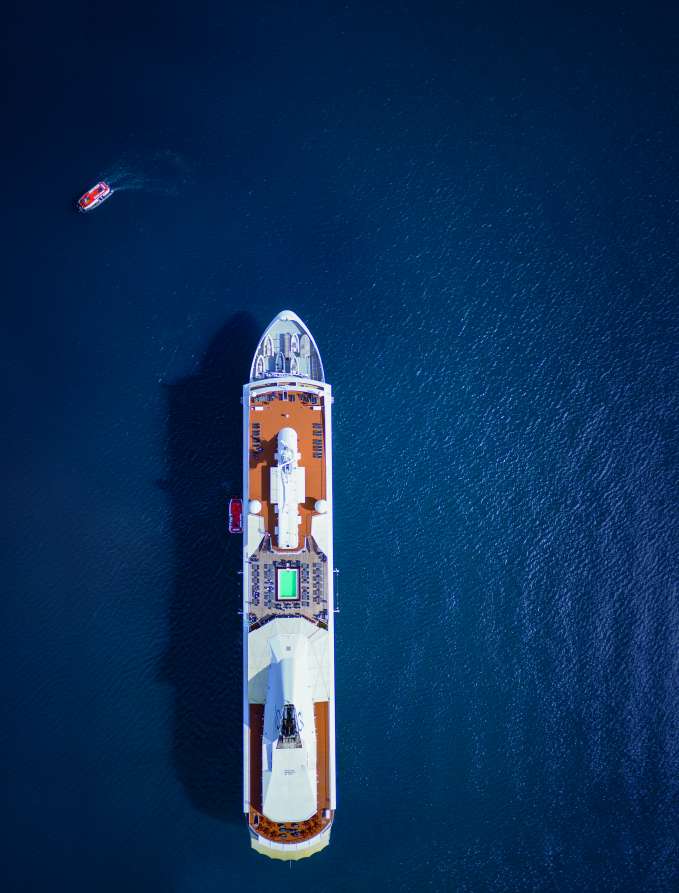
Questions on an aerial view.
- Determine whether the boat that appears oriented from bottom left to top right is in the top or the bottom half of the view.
top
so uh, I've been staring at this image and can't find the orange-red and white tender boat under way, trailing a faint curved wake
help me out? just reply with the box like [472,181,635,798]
[78,181,109,208]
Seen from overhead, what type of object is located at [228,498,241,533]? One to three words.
boat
